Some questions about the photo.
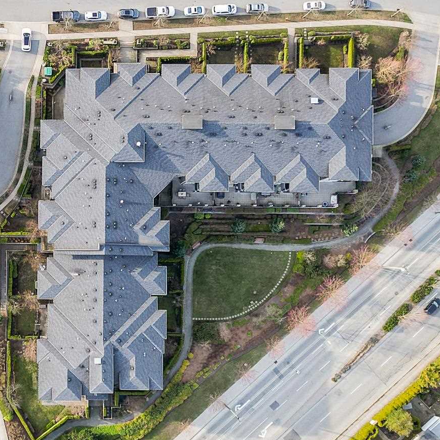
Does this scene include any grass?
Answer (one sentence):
Yes, grass shows up in the scene.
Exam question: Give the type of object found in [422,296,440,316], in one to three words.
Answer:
car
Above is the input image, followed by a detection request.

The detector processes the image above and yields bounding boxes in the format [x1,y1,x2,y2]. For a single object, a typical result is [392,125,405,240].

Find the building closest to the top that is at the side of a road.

[37,62,375,401]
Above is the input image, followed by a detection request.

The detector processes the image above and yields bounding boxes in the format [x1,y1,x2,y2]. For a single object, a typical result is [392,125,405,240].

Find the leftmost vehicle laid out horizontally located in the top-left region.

[51,10,80,23]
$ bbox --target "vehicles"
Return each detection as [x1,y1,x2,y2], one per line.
[51,10,80,23]
[246,1,269,13]
[212,5,237,15]
[348,0,371,10]
[145,5,175,18]
[422,296,440,316]
[302,0,325,11]
[84,10,107,21]
[118,7,139,19]
[183,5,205,17]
